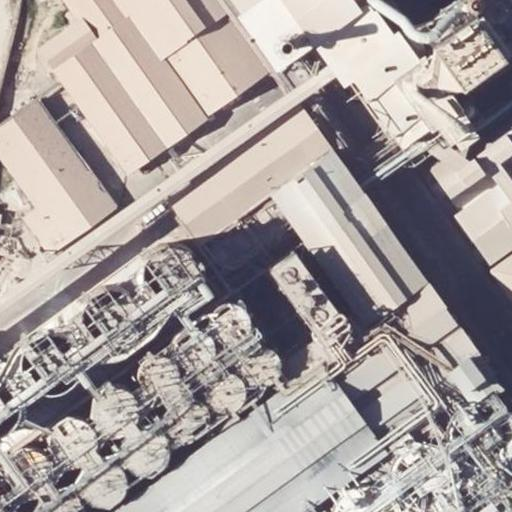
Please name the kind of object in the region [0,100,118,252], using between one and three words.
shed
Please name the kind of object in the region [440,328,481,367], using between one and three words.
building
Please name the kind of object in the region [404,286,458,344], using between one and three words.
building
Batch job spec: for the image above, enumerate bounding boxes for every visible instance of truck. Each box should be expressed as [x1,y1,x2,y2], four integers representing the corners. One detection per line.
[140,202,169,226]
